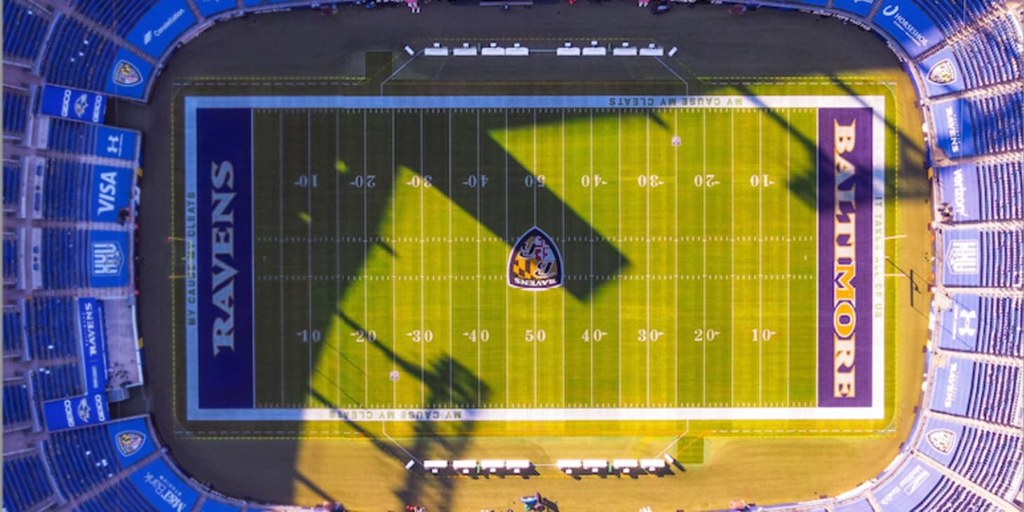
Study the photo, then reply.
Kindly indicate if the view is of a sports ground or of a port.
sports ground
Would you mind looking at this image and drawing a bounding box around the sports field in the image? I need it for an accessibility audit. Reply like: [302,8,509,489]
[173,38,898,478]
